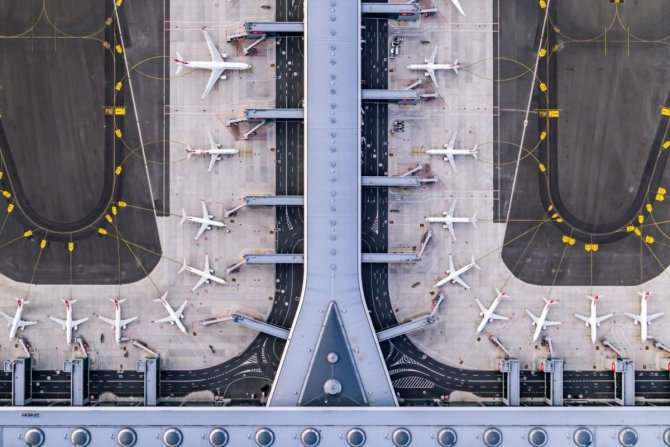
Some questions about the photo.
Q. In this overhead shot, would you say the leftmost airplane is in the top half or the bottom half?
bottom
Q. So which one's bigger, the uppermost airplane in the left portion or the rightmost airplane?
the uppermost airplane in the left portion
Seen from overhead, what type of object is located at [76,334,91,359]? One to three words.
jet bridge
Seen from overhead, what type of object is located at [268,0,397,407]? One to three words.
building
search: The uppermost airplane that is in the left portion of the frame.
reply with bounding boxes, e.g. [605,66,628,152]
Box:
[172,27,251,101]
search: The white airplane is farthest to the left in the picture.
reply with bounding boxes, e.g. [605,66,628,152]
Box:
[0,299,37,340]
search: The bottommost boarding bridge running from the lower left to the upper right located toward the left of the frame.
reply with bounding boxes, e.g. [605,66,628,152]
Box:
[222,259,245,275]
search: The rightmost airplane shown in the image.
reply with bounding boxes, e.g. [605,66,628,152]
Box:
[625,293,668,342]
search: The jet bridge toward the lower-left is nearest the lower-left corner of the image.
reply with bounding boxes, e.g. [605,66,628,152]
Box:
[16,334,35,359]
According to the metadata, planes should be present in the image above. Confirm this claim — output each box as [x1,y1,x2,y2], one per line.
[434,254,479,291]
[574,298,617,344]
[426,130,480,173]
[45,300,88,344]
[182,200,227,241]
[152,295,188,333]
[408,45,462,86]
[0,299,37,340]
[185,130,239,171]
[625,293,668,342]
[96,301,137,344]
[172,27,251,101]
[476,291,512,334]
[426,198,480,241]
[181,253,226,293]
[525,298,566,342]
